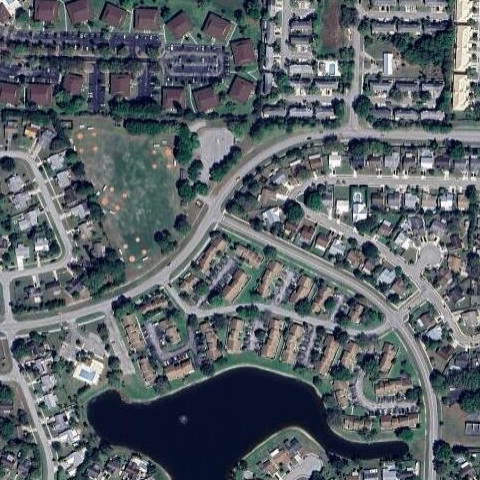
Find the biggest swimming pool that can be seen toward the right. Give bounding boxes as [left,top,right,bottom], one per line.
[318,60,340,76]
